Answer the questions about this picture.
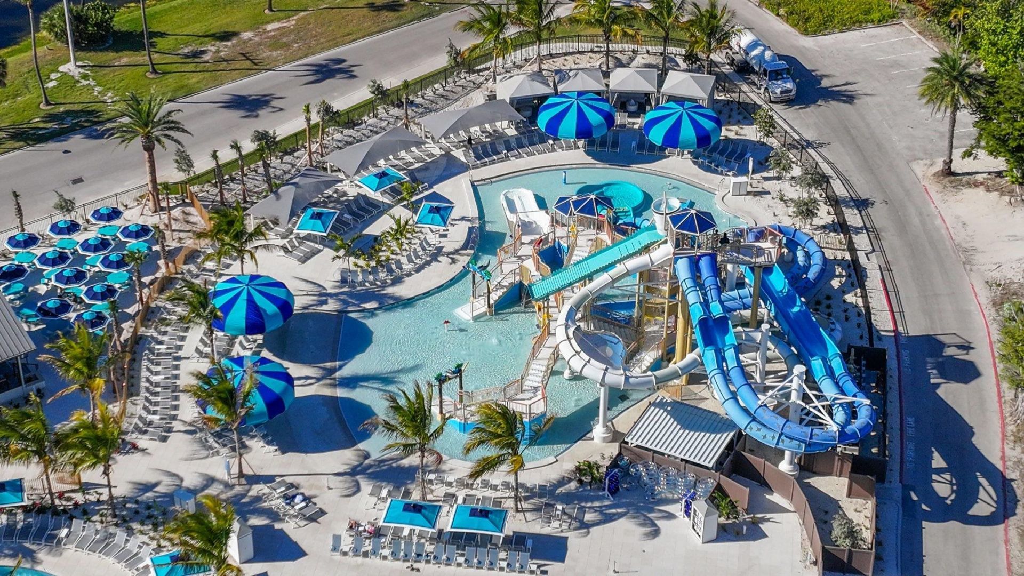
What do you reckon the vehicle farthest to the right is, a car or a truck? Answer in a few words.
truck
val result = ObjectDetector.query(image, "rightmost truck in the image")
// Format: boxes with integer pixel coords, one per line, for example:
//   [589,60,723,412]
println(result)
[725,21,800,106]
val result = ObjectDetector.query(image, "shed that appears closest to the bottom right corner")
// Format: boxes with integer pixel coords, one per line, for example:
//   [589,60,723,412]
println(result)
[690,496,720,544]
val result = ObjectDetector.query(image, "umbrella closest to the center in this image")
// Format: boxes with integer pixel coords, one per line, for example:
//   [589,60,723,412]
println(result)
[415,202,455,242]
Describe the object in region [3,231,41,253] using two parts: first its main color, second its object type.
blue umbrella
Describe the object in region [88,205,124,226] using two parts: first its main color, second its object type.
blue umbrella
